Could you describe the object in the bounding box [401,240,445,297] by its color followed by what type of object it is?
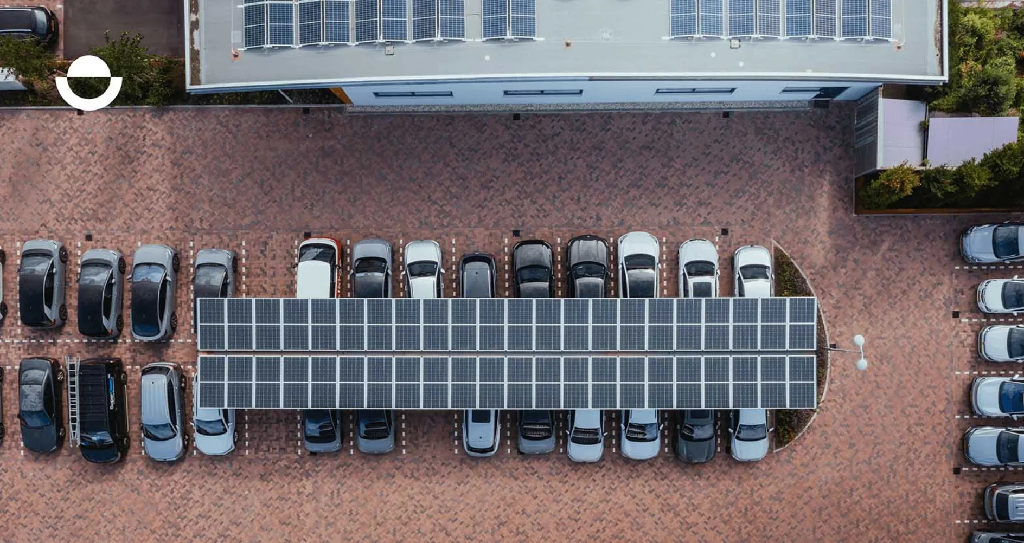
white car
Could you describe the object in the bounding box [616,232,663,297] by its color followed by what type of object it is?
white car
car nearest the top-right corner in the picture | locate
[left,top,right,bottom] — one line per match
[958,219,1024,265]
